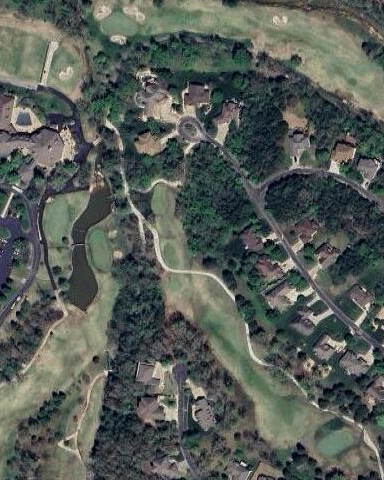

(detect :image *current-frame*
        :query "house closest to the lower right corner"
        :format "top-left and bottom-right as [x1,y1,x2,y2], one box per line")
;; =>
[364,375,384,399]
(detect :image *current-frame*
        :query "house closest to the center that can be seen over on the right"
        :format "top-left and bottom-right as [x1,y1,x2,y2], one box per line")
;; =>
[239,227,265,252]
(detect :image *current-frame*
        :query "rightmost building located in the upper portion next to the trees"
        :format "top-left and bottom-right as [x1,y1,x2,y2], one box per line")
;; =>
[356,153,381,179]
